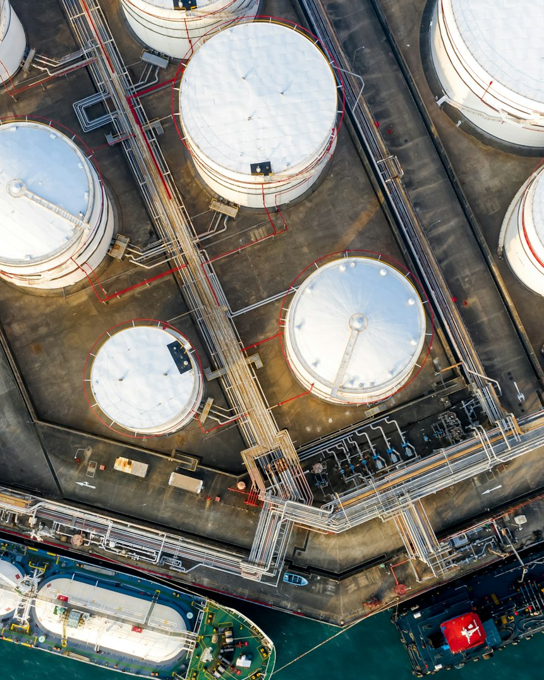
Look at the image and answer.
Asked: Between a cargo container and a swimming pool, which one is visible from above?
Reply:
cargo container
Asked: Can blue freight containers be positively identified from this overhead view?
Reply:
No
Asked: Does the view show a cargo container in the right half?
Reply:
No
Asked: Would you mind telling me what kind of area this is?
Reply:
industrial area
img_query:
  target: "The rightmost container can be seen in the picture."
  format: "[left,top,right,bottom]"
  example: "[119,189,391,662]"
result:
[168,469,206,495]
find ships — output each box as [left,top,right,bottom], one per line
[393,550,544,674]
[0,537,277,680]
